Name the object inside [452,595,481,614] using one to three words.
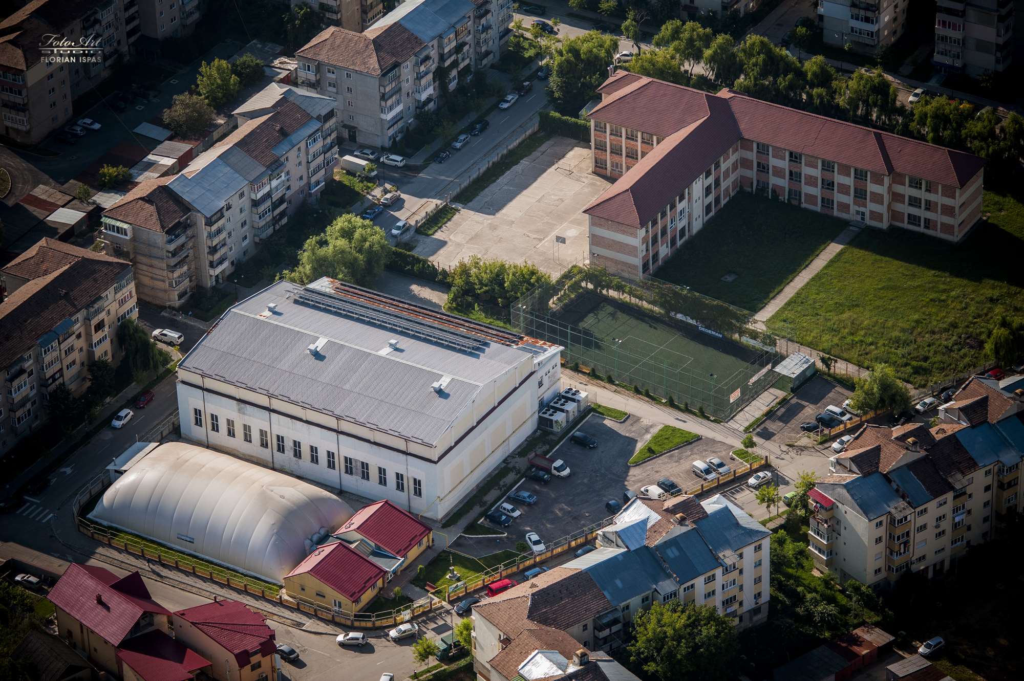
car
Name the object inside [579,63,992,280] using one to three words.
building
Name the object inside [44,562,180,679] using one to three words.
house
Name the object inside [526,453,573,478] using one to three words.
truck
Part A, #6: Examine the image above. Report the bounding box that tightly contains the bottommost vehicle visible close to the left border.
[13,573,44,589]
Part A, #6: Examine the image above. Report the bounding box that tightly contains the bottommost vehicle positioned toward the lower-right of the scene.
[916,635,947,656]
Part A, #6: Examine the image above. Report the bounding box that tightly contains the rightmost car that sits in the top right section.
[974,104,996,120]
